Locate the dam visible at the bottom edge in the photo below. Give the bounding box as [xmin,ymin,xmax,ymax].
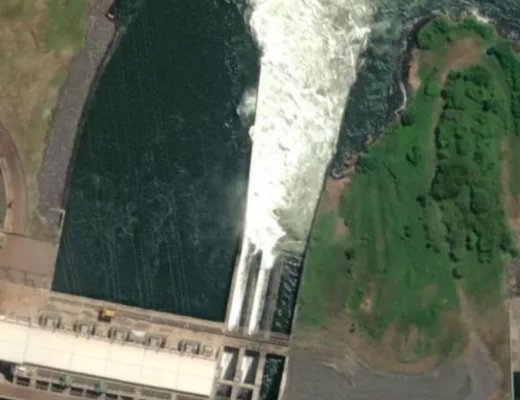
[0,253,292,400]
